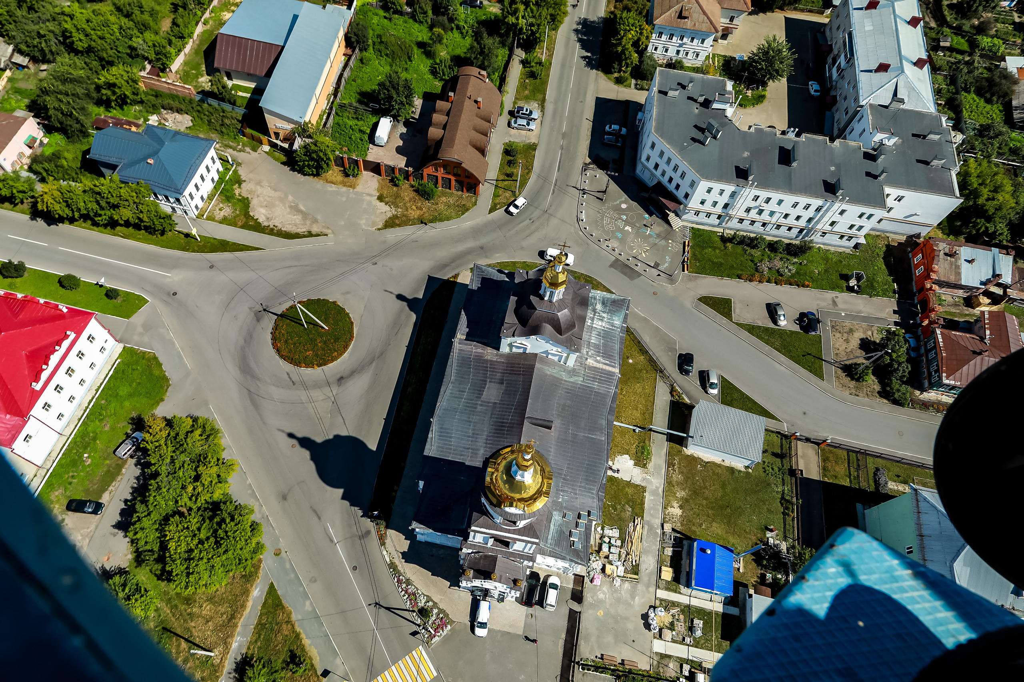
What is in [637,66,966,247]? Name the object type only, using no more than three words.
building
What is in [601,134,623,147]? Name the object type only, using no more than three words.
vehicle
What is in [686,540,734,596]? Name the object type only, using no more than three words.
shed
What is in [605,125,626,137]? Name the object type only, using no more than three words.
vehicle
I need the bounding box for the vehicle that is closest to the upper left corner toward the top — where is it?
[377,121,392,141]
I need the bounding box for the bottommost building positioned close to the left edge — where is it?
[0,289,121,494]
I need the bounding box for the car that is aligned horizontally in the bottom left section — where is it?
[64,500,108,518]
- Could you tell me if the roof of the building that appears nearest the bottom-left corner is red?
Yes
